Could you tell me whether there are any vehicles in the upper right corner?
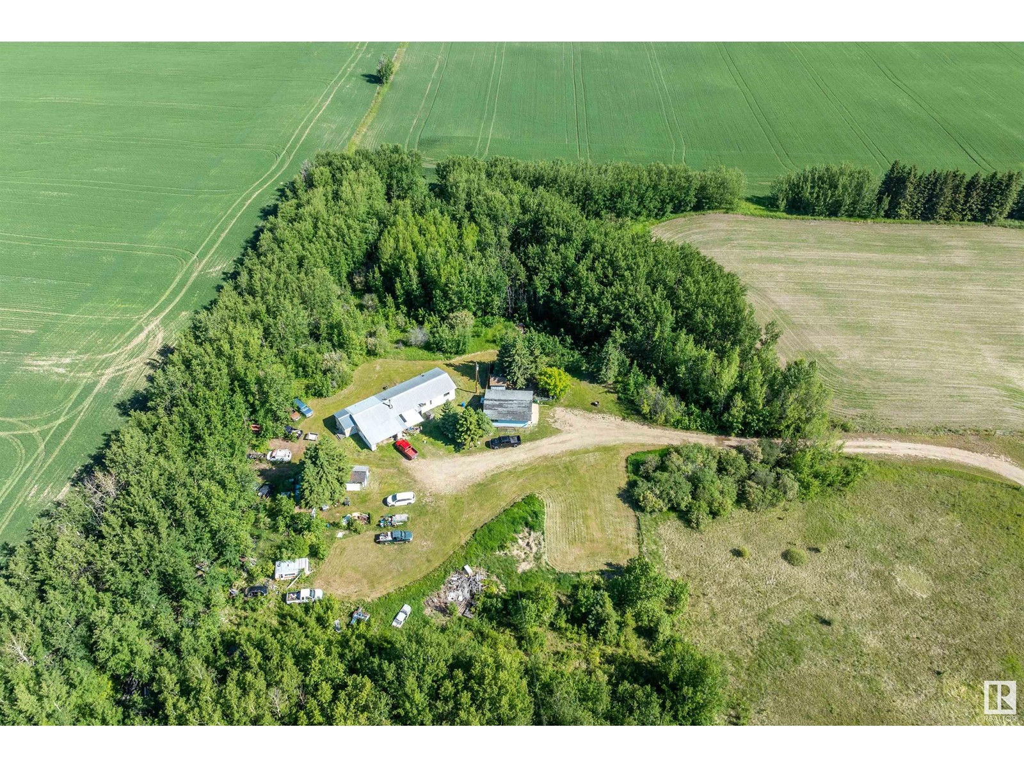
No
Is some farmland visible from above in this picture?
Yes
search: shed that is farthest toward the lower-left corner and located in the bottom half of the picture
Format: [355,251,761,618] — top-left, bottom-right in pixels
[345,467,366,494]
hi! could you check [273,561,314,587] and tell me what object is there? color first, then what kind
white camper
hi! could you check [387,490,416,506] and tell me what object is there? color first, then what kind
white car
